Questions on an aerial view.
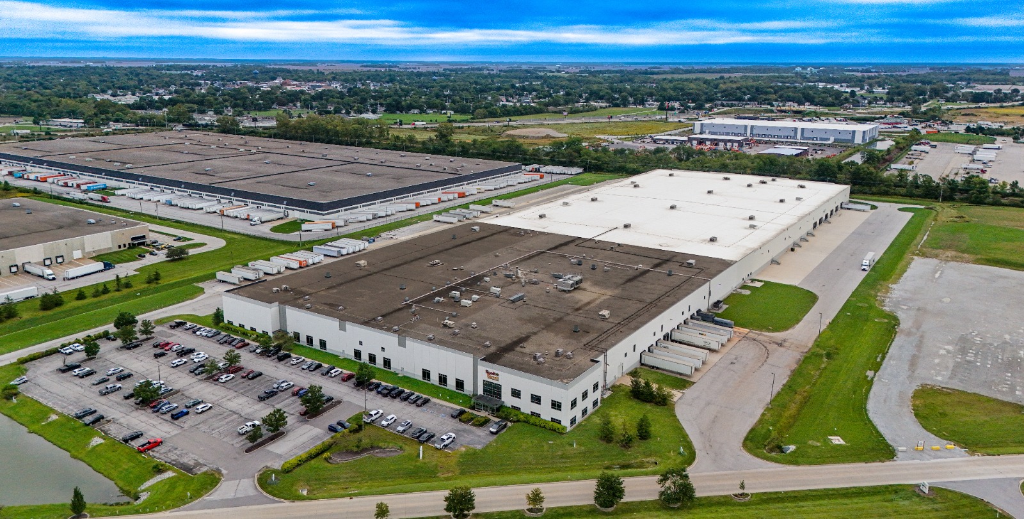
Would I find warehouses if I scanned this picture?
Yes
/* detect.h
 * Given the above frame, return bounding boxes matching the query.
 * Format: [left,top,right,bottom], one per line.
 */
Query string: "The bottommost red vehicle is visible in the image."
[135,438,164,452]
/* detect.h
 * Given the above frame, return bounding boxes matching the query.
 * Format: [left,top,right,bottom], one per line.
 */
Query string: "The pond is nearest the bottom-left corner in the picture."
[0,414,127,507]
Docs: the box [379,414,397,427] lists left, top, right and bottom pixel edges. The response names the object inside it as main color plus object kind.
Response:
white vehicle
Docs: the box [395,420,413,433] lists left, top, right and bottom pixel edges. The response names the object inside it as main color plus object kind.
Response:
gray vehicle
